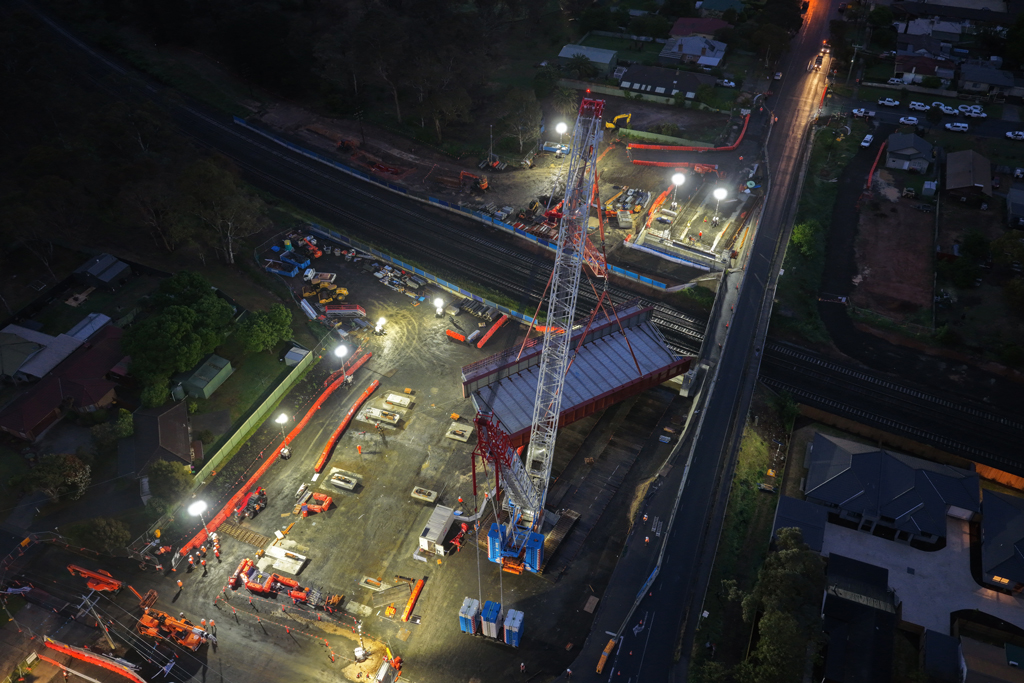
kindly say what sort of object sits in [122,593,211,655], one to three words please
crane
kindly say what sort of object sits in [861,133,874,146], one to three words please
vehicle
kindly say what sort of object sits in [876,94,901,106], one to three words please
vehicle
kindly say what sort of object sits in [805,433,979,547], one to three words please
house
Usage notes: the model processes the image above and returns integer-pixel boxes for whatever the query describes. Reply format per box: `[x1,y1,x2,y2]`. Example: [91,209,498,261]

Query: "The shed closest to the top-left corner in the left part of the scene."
[76,253,132,296]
